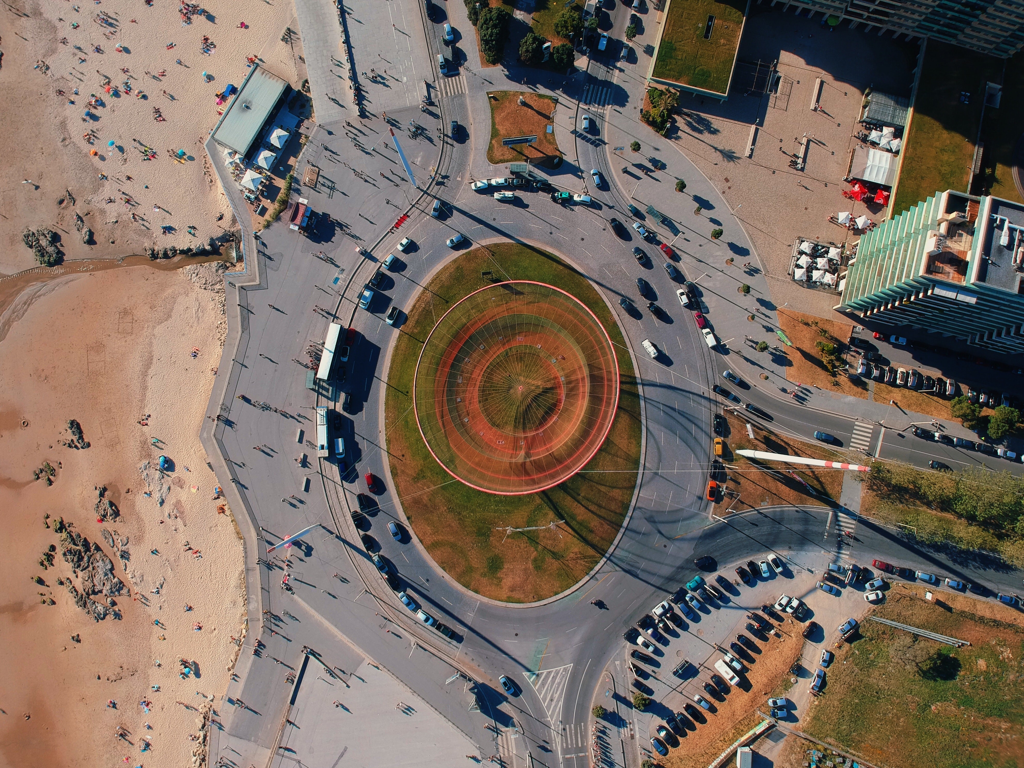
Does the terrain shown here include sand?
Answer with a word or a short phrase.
Yes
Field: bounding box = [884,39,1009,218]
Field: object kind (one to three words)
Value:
building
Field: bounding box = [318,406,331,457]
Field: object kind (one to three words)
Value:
train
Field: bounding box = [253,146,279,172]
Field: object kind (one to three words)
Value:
umbrella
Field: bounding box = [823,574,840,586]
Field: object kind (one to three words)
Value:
vehicle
